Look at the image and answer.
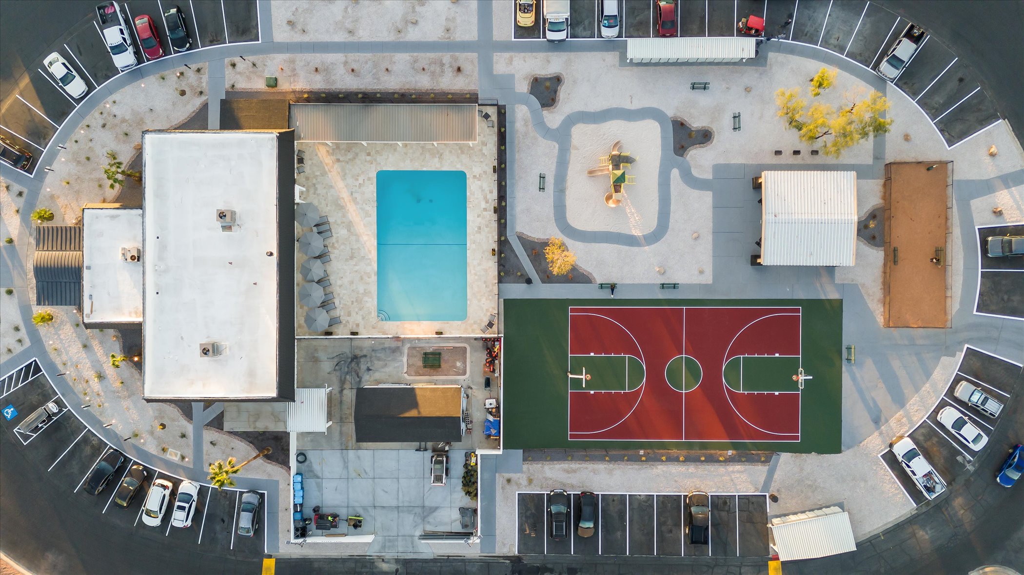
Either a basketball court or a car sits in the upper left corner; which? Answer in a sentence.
You can see a car in the upper left corner.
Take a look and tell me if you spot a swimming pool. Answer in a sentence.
Yes, the frame does contain a swimming pool.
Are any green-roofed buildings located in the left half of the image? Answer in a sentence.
No, looking in the left half of the image, there is no green-roofed building.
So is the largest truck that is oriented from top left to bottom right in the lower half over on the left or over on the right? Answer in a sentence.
You can find the largest truck that is oriented from top left to bottom right in the lower half on the right side of the picture.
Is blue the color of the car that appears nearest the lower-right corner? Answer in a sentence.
Yes, the car that appears nearest the lower-right corner appears blue.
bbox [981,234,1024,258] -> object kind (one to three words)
truck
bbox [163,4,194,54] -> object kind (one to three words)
car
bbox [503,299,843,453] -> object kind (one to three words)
basketball court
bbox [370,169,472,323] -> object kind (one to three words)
swimming pool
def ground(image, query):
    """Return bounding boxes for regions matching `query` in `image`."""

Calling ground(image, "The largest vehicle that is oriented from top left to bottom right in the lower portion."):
[887,432,950,502]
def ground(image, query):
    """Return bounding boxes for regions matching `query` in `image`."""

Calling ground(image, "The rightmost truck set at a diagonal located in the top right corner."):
[875,20,930,83]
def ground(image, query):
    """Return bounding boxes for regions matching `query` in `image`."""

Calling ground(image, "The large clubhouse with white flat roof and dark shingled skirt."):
[79,128,312,403]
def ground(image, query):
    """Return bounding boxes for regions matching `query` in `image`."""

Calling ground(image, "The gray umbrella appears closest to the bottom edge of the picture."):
[303,307,331,335]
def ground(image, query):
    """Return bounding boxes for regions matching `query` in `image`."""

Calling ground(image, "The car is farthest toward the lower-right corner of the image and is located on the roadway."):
[993,440,1024,488]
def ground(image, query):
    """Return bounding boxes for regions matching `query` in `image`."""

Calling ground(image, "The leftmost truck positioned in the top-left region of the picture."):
[0,134,35,170]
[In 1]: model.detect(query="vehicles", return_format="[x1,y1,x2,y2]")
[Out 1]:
[134,13,165,62]
[429,444,450,487]
[934,406,988,452]
[10,402,62,439]
[655,0,678,36]
[887,432,950,502]
[174,479,203,529]
[951,381,1006,419]
[686,489,711,546]
[993,440,1024,488]
[83,448,126,497]
[981,234,1024,258]
[236,489,262,537]
[875,20,930,83]
[517,0,536,24]
[547,488,570,542]
[598,0,622,39]
[143,478,175,528]
[576,490,598,539]
[544,0,572,44]
[93,0,139,73]
[739,15,772,39]
[113,463,149,511]
[0,134,35,170]
[163,4,194,54]
[43,50,91,101]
